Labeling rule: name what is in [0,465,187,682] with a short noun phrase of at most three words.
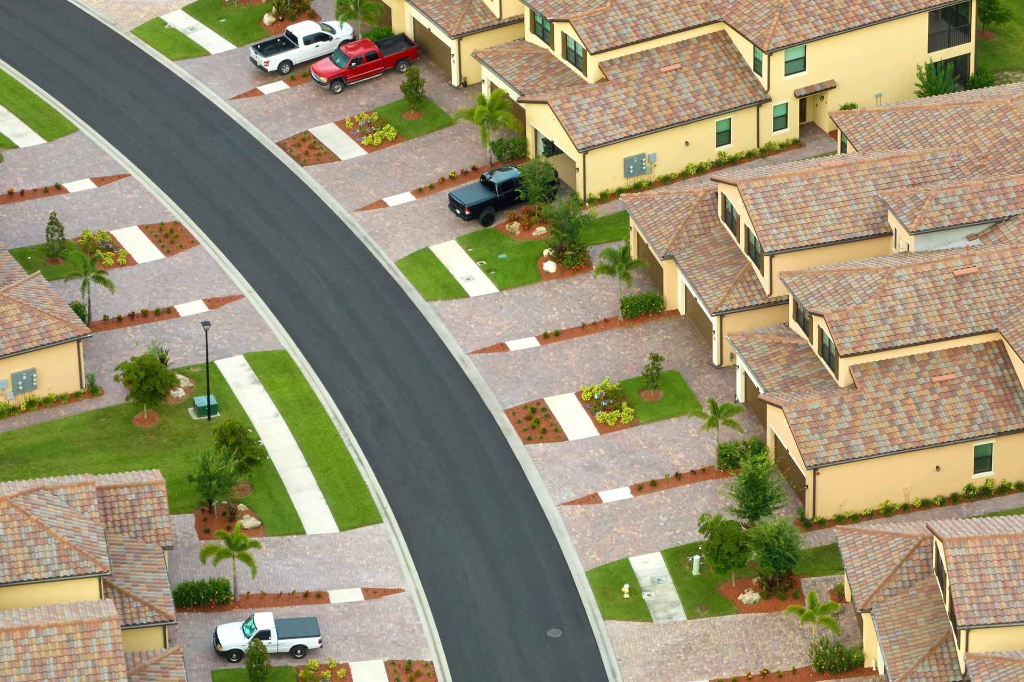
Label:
building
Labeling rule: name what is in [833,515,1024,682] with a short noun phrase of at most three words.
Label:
building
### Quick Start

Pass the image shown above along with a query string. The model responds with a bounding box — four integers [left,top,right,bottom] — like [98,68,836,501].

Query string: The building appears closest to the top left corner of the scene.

[0,234,96,410]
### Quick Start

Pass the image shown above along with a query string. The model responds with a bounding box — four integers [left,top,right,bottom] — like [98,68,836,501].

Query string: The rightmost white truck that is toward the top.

[248,21,356,75]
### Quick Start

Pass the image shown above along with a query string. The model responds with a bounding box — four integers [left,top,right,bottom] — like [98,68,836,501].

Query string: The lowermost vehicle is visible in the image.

[214,612,325,663]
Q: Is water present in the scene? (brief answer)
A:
No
